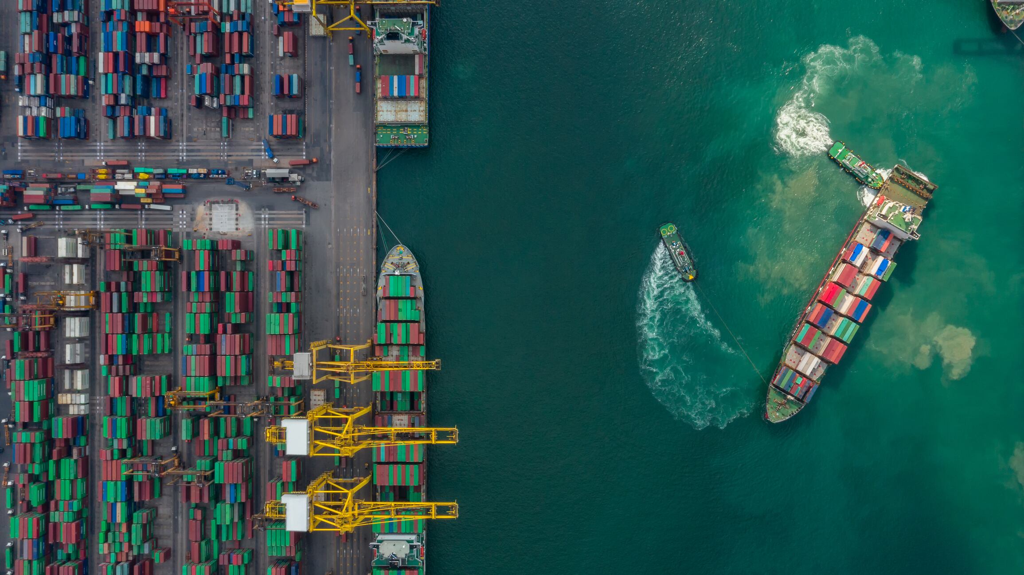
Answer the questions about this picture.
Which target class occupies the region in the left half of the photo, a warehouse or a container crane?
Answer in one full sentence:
You can see a container crane in the left half of the photo.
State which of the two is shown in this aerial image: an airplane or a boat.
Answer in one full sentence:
The image shows a boat.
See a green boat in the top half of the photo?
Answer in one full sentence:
Yes, the scene does show a green boat in the top half of the photo.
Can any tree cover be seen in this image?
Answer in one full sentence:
No, the scene doesn't show any tree cover.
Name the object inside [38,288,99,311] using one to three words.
crane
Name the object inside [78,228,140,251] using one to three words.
crane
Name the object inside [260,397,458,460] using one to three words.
container crane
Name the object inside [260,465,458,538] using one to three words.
container crane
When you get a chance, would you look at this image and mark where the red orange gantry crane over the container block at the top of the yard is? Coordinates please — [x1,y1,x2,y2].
[166,0,222,34]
